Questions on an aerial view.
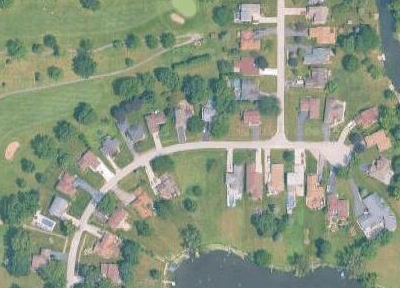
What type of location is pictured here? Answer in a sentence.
This looks like a residential area.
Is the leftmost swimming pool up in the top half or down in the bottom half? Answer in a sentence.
The leftmost swimming pool is in the bottom half of the image.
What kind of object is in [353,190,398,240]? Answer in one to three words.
house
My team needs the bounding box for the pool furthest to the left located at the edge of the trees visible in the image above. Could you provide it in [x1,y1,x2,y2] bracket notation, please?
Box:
[32,212,58,231]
